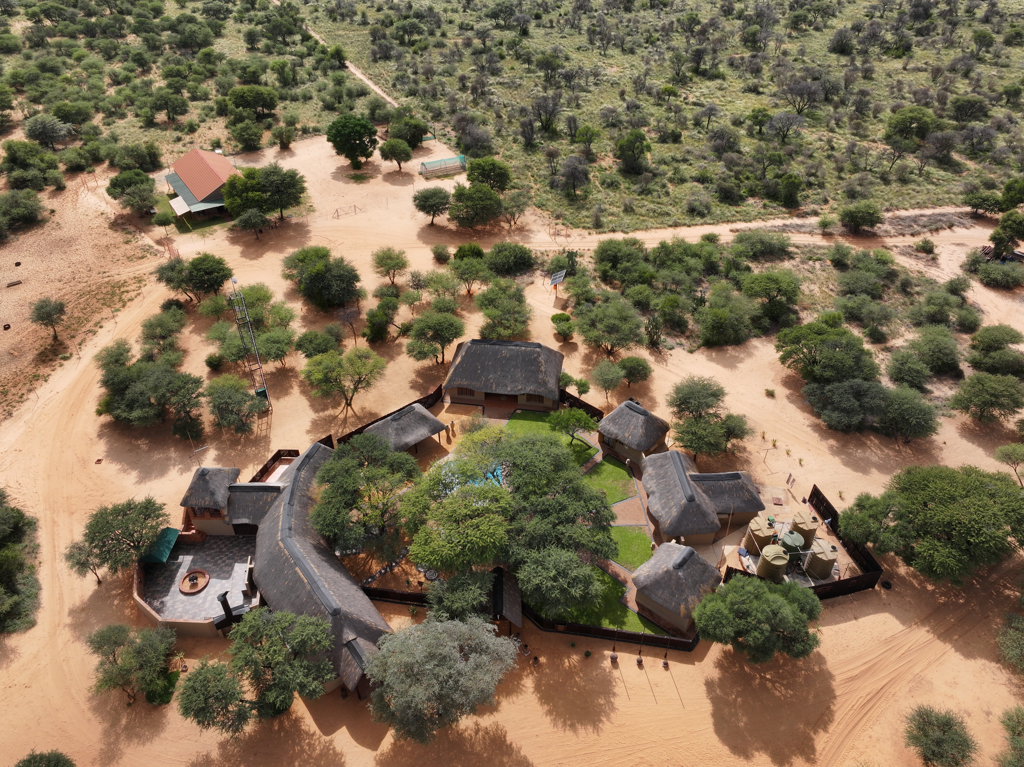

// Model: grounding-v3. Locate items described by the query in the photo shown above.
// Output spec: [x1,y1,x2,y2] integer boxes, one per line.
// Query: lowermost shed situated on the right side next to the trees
[633,542,724,631]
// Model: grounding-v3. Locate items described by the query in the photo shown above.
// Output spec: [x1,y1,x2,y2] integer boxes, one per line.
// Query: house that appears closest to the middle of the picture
[442,339,568,410]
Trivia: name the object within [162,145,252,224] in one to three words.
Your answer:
house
